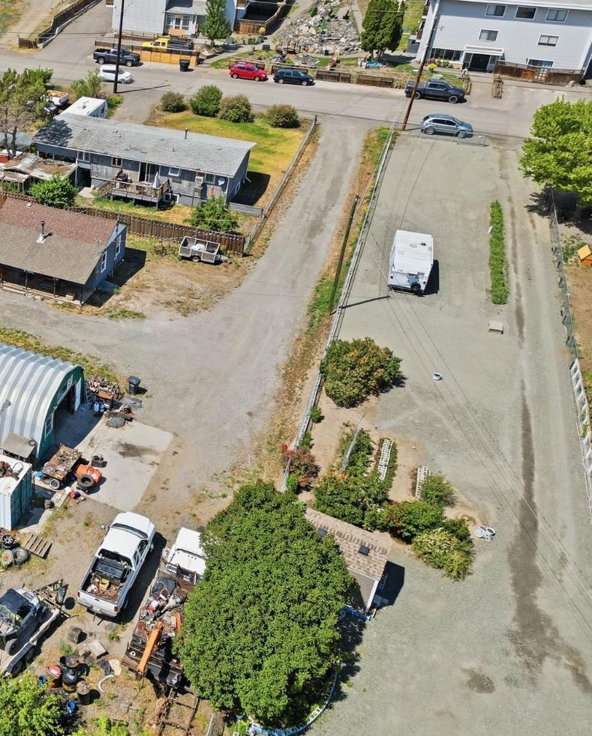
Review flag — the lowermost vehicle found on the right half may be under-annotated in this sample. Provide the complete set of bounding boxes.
[387,237,430,299]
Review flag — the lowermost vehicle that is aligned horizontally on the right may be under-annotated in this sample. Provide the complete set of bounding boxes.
[421,115,470,138]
